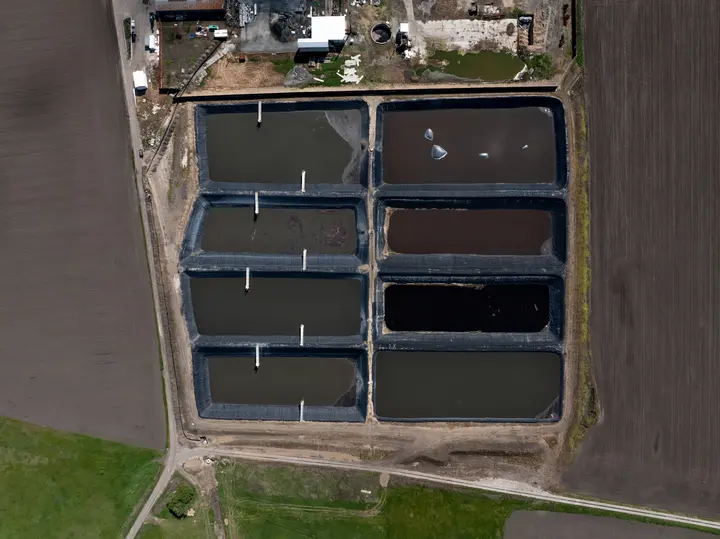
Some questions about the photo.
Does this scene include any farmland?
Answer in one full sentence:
Yes, some farmland is visible.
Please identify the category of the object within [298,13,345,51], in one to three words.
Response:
building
